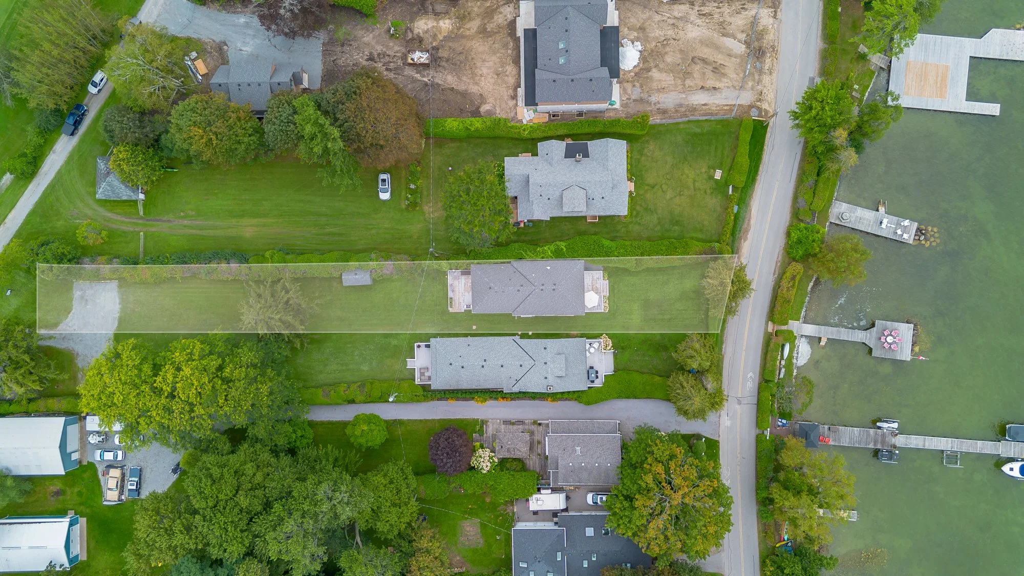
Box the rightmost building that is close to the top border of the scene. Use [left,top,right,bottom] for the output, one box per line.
[517,0,620,119]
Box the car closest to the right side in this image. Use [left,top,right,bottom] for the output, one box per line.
[586,491,614,505]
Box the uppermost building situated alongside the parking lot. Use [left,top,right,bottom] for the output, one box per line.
[0,413,78,475]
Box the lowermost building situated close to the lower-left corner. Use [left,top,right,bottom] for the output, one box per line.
[0,513,80,571]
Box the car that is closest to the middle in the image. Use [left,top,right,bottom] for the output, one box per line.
[378,173,392,200]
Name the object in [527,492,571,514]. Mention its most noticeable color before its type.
white vehicle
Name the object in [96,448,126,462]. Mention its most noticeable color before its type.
white car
